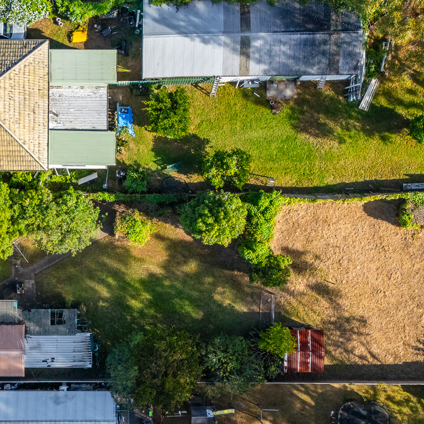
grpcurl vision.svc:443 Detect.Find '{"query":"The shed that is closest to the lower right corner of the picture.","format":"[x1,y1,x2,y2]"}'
[285,330,327,373]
